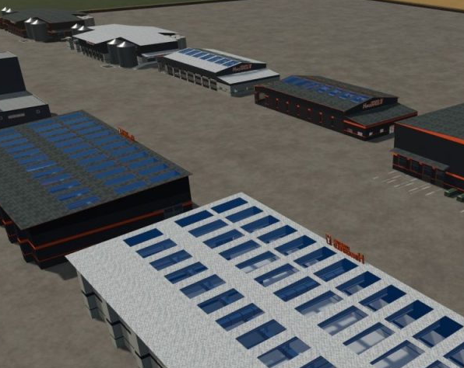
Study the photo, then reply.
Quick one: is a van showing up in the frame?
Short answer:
No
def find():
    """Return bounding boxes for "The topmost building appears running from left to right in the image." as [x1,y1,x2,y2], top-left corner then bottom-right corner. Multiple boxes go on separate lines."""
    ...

[0,9,97,43]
